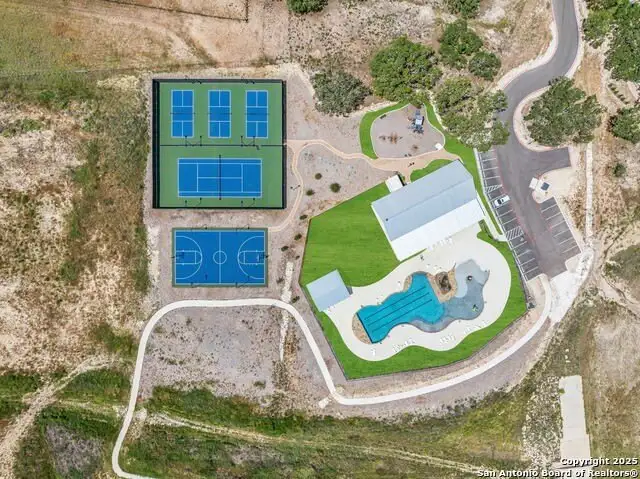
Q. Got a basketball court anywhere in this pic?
Yes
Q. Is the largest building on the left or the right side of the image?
right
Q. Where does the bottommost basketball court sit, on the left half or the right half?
left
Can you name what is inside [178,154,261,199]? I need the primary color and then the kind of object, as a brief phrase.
blue tennis court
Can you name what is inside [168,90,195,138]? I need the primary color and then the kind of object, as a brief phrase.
blue sports court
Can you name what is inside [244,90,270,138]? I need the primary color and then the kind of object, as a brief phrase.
blue sports court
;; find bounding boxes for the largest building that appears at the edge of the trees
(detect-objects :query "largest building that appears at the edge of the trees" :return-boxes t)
[371,159,488,261]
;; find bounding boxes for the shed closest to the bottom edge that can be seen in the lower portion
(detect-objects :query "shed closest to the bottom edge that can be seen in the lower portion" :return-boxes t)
[306,270,351,312]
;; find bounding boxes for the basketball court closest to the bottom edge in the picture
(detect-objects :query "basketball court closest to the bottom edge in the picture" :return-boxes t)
[172,228,268,286]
